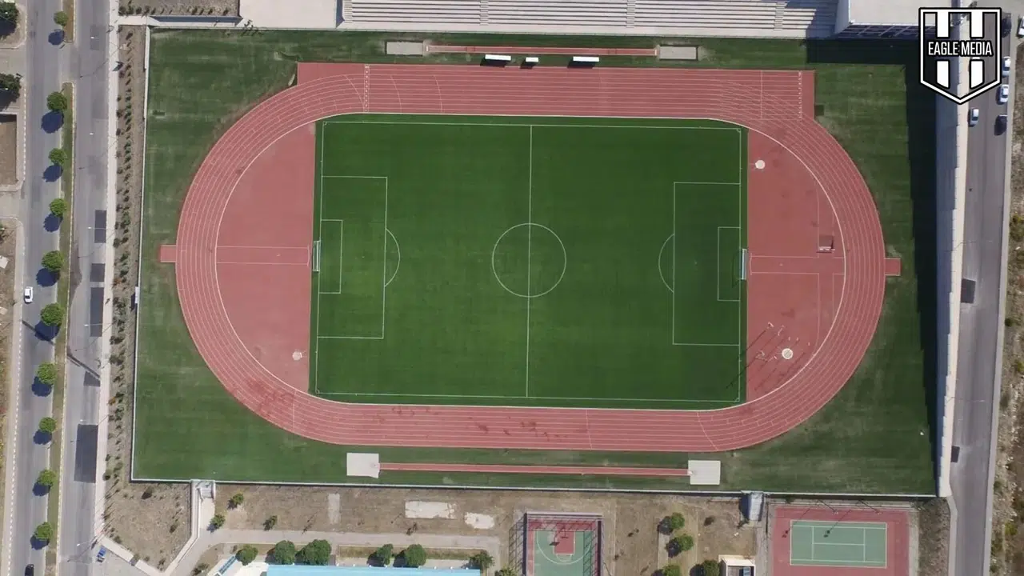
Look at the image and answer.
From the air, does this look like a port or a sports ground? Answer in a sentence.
The picture captures a sports ground.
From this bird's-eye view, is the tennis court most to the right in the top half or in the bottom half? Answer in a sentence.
The tennis court most to the right is in the bottom half of the image.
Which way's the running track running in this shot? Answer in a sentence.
From this overhead view, the running track appears to run horizontally.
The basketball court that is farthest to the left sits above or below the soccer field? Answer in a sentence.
From this view, the basketball court that is farthest to the left can be seen below the soccer field.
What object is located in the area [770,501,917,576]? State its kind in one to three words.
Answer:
tennis court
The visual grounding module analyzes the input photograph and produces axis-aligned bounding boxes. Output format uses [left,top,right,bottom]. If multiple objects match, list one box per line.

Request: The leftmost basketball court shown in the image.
[527,516,601,576]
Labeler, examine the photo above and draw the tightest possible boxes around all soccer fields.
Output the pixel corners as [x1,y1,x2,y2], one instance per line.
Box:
[307,114,747,410]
